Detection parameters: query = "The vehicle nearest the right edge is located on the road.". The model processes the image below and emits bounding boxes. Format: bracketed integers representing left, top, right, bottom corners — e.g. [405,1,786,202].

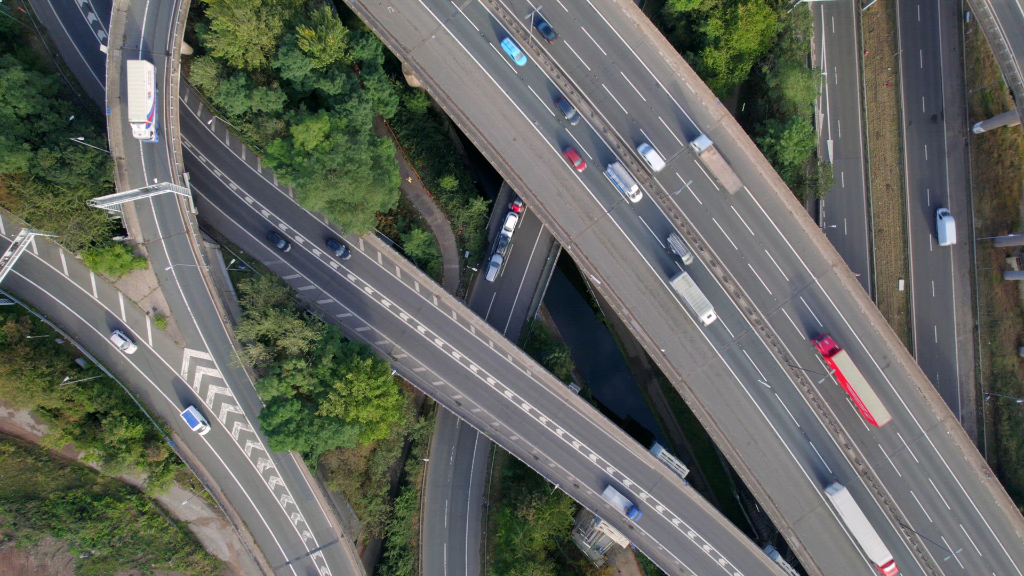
[934,209,956,244]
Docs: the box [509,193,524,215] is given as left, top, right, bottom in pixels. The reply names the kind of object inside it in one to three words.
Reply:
car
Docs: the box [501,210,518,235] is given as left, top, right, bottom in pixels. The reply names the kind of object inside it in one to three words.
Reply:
car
